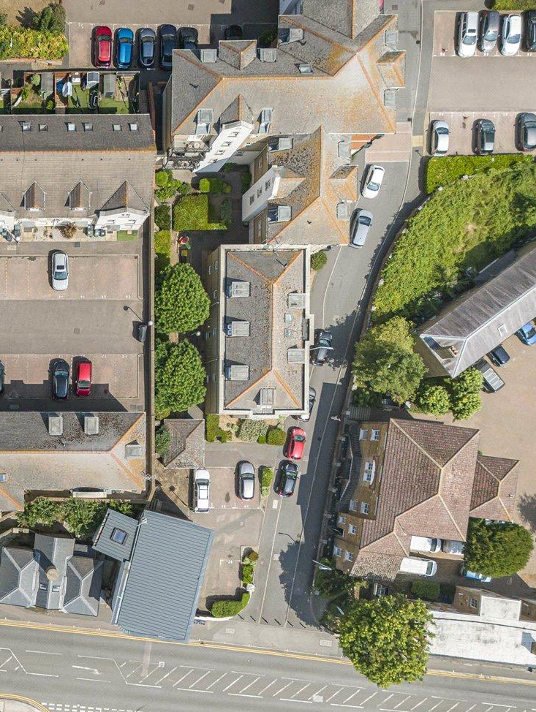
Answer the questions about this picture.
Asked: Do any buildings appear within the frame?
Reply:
Yes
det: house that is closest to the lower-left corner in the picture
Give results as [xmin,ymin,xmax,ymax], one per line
[0,531,103,616]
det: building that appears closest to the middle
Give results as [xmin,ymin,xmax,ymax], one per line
[201,245,313,416]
